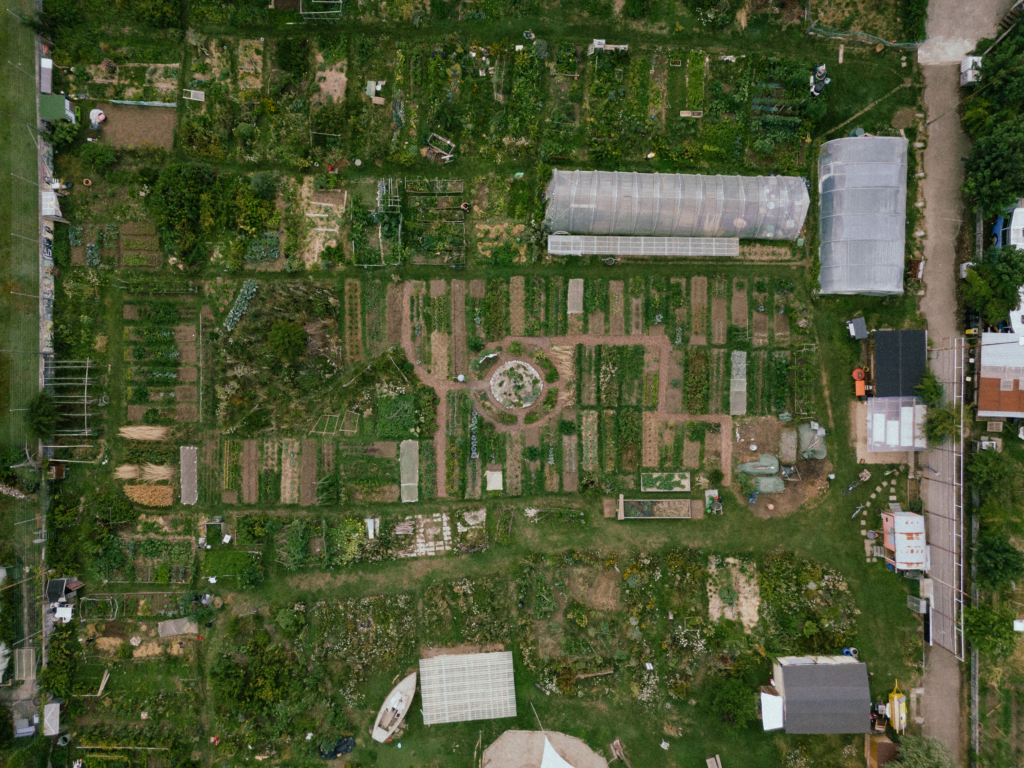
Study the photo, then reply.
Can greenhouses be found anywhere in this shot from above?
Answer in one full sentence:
Yes, you can see a greenhouse in this photo.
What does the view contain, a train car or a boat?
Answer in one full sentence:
The one in the frame is a boat.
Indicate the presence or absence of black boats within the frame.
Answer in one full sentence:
No, no black boat is visible in the scene.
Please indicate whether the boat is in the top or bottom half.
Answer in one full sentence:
It is in the bottom half that the boat appears.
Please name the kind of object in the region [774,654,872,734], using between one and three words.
house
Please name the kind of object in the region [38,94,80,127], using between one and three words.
shed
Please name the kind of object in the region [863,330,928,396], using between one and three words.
shed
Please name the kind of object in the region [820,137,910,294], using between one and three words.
greenhouse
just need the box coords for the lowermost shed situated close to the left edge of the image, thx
[44,696,72,735]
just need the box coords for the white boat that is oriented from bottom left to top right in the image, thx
[370,675,415,747]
